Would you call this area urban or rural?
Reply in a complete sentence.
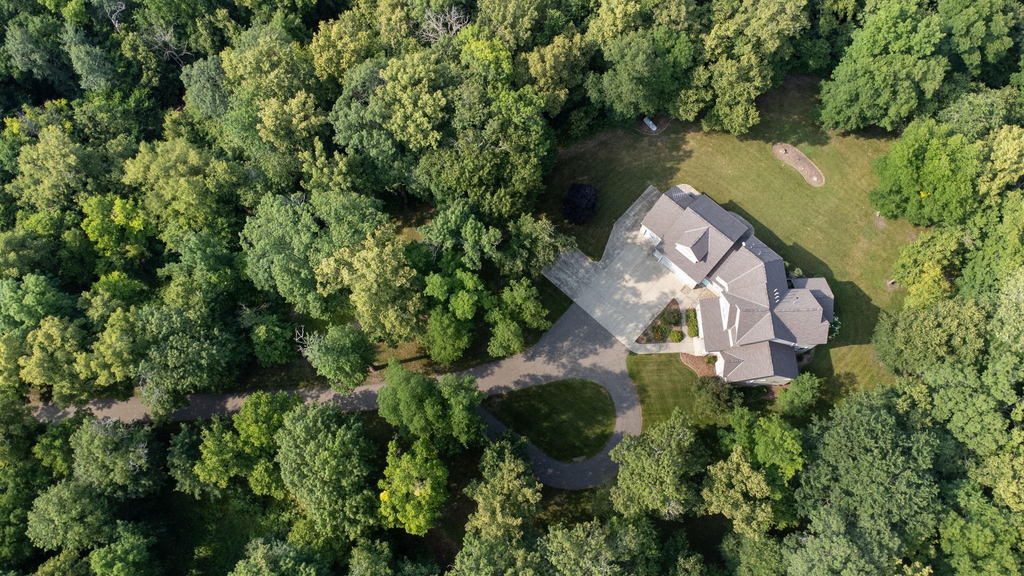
The land in this view is best described as rural.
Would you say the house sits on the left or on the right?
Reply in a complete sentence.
The house is on the right side of the image.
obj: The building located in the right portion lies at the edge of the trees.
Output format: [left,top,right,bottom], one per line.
[641,186,835,385]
